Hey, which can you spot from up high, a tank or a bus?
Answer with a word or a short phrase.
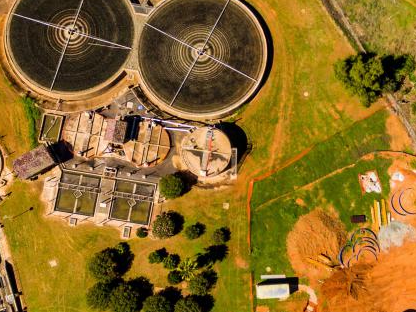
tank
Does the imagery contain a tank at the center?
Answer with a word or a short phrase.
Yes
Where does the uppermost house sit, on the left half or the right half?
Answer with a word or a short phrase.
left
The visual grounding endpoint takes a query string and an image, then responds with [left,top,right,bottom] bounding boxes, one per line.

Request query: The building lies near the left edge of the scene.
[12,143,59,180]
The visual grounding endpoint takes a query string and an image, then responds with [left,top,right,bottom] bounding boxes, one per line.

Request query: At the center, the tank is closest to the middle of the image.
[182,126,234,179]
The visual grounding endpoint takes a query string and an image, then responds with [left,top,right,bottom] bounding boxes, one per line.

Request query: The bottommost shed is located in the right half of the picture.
[256,281,289,302]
